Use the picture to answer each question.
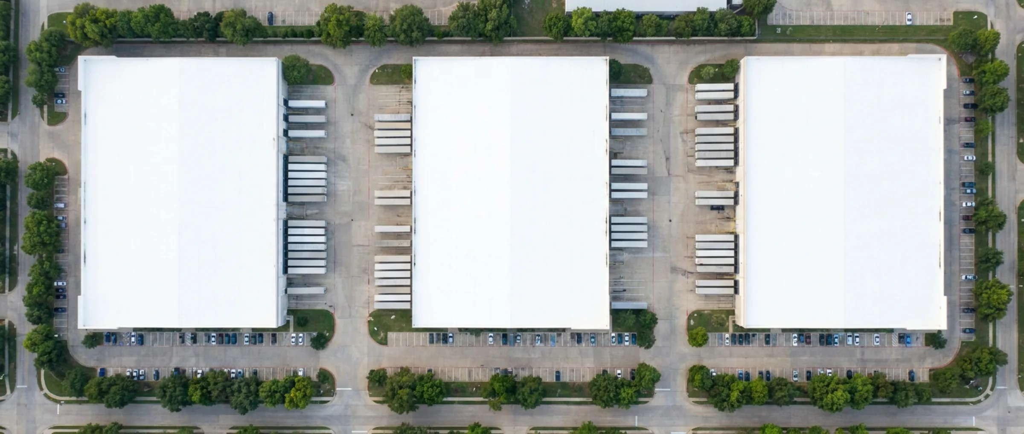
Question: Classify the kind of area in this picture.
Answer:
industrial area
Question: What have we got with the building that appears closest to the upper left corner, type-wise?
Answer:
warehouse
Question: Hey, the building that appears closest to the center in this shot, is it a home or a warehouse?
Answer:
warehouse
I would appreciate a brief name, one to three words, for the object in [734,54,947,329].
warehouse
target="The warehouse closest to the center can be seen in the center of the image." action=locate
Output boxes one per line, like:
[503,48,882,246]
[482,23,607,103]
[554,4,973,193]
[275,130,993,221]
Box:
[411,57,611,329]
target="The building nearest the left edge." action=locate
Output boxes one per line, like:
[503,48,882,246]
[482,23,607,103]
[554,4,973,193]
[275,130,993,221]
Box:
[78,56,289,329]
